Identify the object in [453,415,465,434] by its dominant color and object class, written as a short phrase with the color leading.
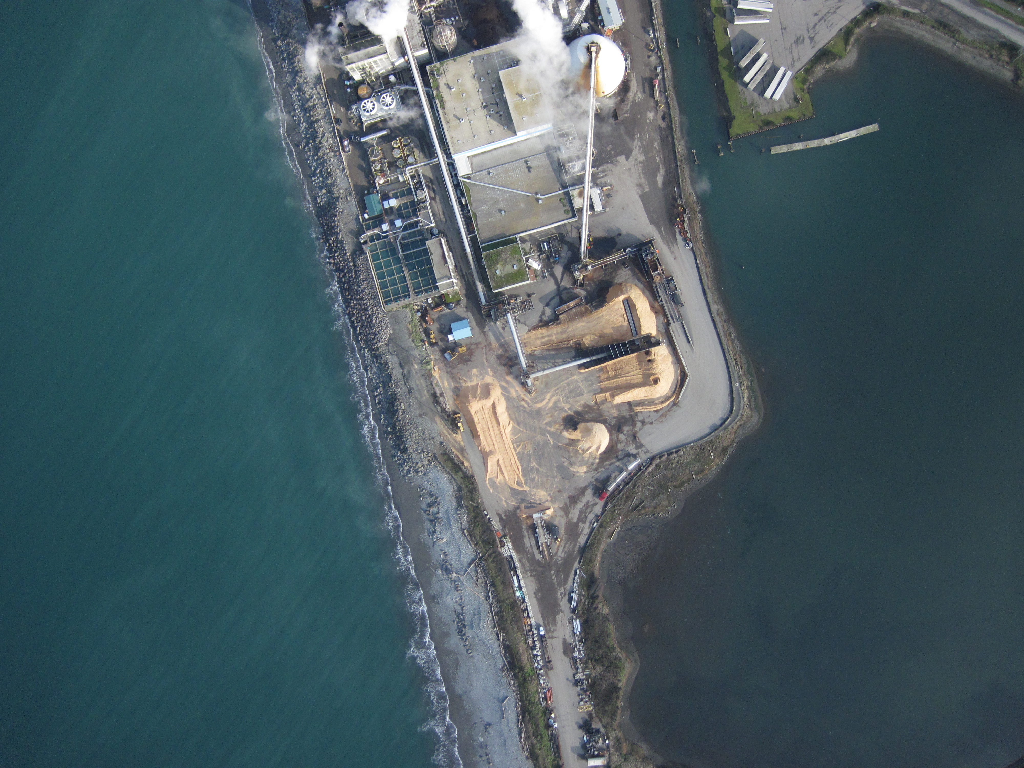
yellow vehicle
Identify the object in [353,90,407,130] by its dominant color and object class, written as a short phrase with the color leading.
white cooling tower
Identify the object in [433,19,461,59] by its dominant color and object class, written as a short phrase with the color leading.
gray storage tank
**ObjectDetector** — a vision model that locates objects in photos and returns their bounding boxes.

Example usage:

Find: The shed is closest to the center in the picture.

[448,319,473,343]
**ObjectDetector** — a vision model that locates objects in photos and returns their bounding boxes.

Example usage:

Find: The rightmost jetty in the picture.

[825,123,878,145]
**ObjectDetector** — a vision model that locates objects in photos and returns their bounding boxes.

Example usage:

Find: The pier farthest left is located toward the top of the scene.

[770,139,826,154]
